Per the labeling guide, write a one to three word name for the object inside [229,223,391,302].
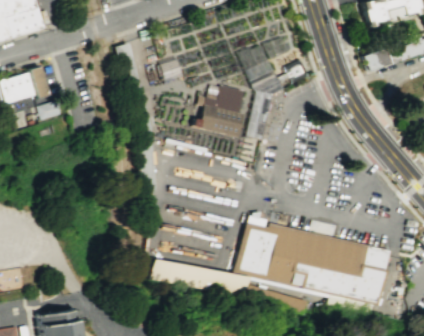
building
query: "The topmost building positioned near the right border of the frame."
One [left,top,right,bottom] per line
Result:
[360,0,424,27]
